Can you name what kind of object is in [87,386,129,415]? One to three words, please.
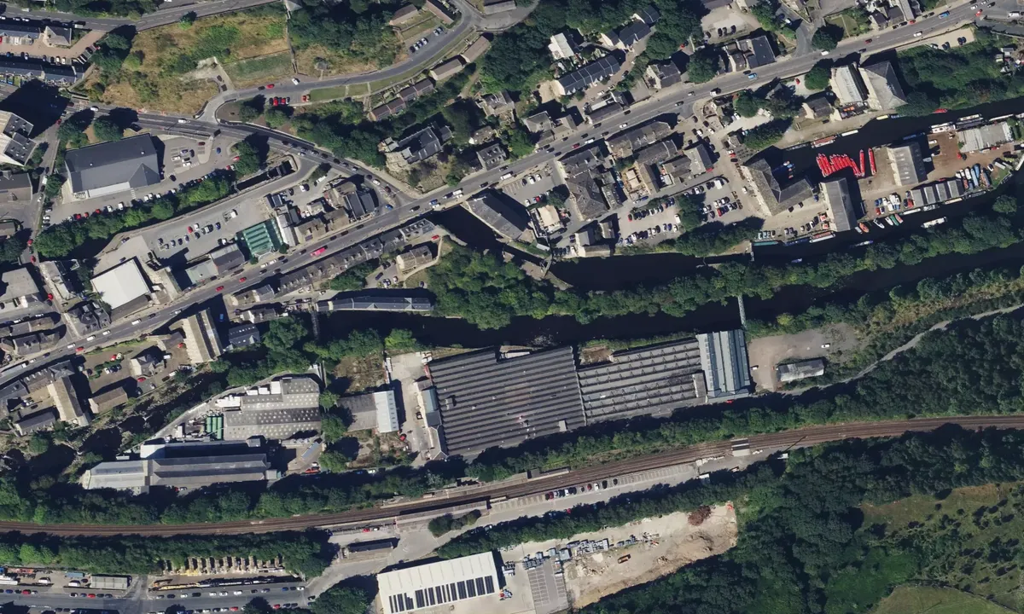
shed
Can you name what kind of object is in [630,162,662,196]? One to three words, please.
house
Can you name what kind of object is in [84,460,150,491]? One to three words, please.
building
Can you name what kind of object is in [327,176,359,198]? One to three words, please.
house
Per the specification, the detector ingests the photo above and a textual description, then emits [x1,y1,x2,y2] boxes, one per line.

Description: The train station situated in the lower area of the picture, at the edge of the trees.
[321,470,567,556]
